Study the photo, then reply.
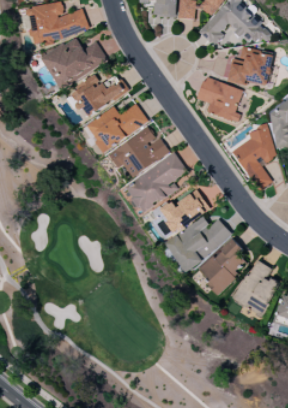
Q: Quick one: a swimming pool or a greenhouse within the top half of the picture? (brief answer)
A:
swimming pool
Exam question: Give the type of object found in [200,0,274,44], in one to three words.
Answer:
house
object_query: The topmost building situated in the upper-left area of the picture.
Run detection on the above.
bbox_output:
[26,0,90,46]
